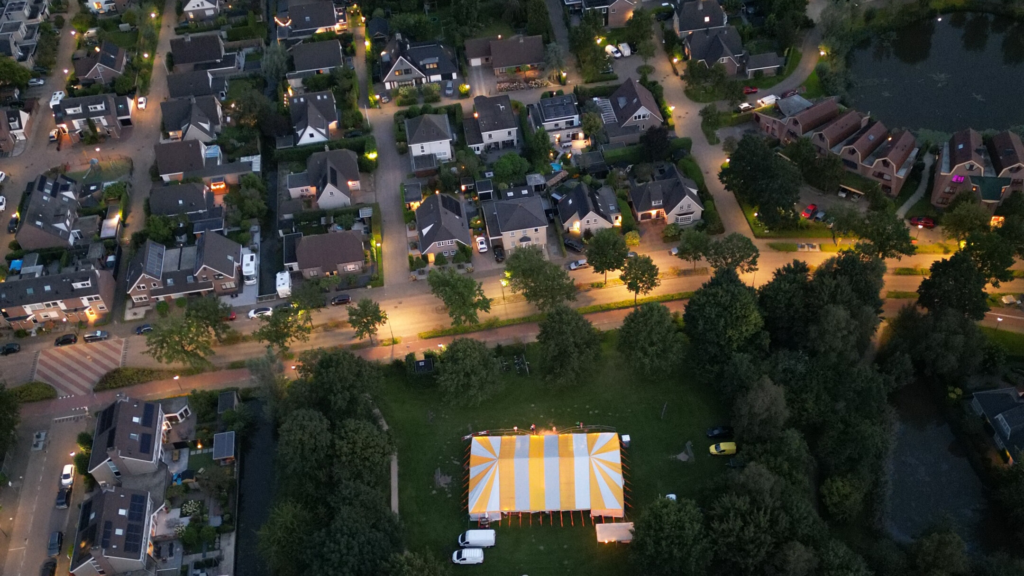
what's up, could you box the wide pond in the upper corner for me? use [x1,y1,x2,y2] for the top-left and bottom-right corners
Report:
[847,9,1024,137]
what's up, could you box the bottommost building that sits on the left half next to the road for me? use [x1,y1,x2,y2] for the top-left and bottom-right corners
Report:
[68,484,169,576]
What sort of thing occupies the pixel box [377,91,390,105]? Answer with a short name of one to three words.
vehicle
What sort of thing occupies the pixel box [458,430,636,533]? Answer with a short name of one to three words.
tent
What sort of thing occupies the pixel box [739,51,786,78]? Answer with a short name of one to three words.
building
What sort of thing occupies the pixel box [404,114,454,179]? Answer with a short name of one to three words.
house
